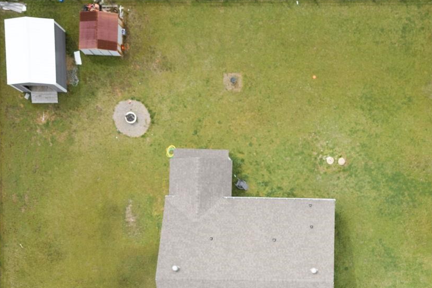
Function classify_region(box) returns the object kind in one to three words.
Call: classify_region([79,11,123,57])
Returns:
shed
